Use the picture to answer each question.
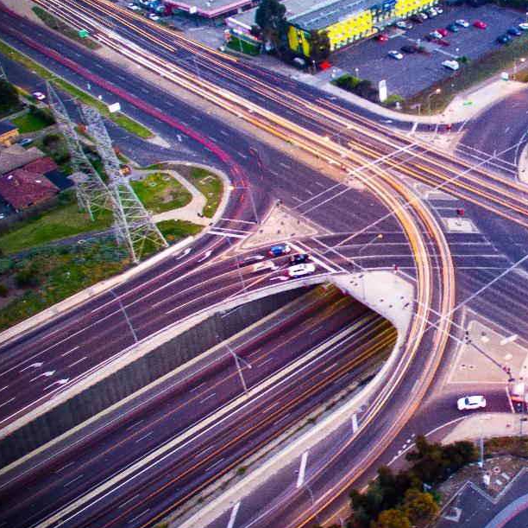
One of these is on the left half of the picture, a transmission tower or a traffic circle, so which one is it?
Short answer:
transmission tower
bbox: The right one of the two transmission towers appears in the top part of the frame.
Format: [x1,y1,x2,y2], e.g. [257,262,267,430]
[76,100,173,262]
